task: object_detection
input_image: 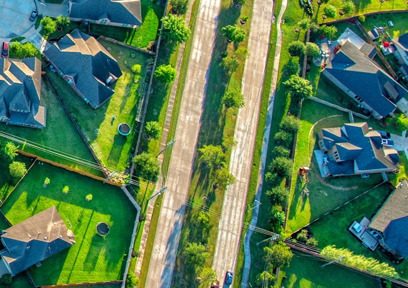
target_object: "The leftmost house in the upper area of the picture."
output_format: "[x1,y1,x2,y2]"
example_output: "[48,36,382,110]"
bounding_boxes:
[0,57,47,125]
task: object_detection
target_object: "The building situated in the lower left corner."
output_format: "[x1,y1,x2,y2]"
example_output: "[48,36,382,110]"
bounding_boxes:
[3,221,75,273]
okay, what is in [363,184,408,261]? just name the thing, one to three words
house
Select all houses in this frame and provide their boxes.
[65,0,142,29]
[328,126,399,177]
[0,57,47,125]
[324,41,408,124]
[363,184,408,261]
[3,221,75,273]
[47,31,128,112]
